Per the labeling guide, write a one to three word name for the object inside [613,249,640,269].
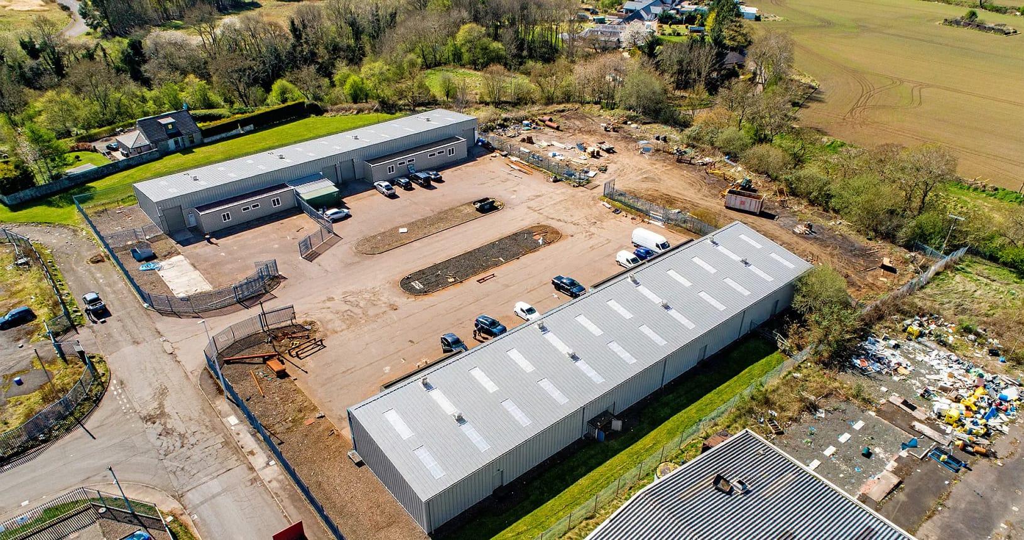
vehicle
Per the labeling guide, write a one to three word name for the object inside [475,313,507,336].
car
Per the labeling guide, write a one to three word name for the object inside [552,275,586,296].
truck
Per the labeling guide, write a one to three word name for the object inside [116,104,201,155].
house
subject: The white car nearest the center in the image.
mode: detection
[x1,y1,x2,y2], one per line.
[512,303,540,320]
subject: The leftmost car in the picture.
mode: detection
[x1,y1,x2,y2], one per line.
[0,305,35,328]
